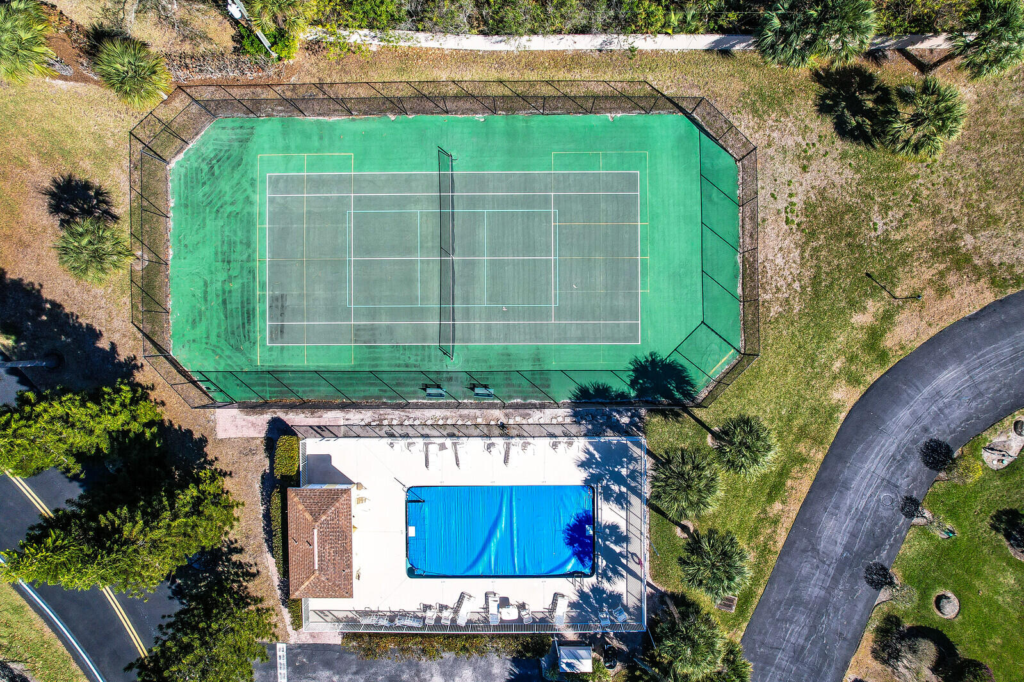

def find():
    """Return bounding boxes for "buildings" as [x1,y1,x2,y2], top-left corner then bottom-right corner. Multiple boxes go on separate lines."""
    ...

[285,483,357,601]
[558,638,593,671]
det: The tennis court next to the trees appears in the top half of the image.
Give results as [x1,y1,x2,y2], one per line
[169,114,742,401]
